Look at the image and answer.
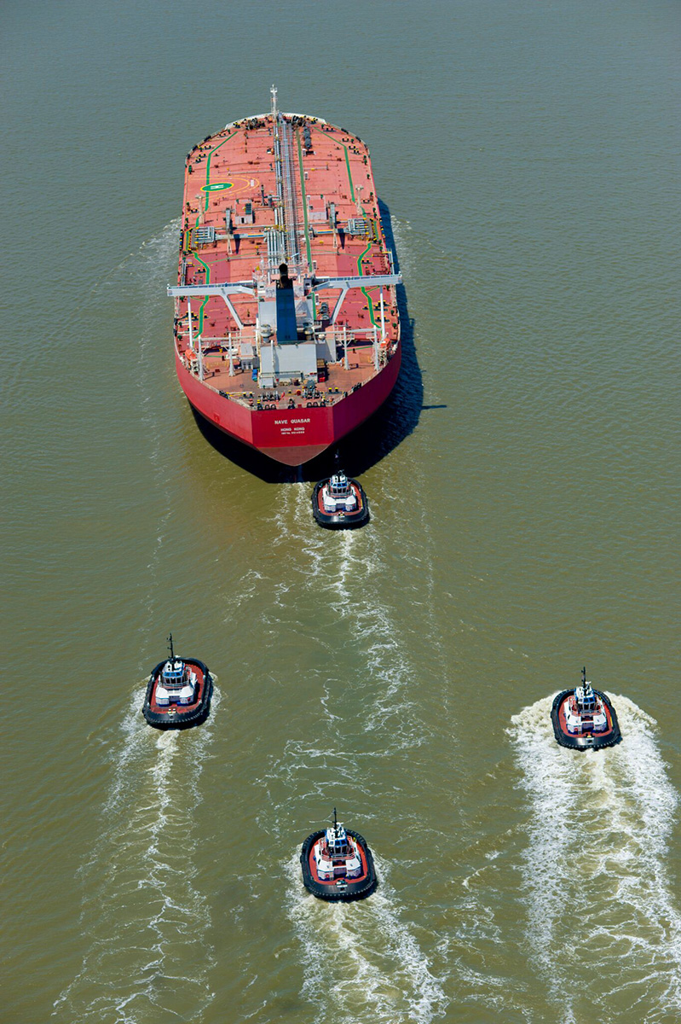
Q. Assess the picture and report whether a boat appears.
Yes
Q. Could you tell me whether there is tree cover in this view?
No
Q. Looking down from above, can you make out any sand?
No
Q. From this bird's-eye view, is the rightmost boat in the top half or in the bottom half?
bottom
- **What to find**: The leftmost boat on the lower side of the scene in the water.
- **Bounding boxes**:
[144,636,210,730]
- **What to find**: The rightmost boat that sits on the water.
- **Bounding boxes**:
[552,662,624,750]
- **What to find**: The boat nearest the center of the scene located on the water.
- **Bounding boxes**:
[313,452,369,529]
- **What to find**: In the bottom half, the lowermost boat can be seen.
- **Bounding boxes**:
[302,804,377,904]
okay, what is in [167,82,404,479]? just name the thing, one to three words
ship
